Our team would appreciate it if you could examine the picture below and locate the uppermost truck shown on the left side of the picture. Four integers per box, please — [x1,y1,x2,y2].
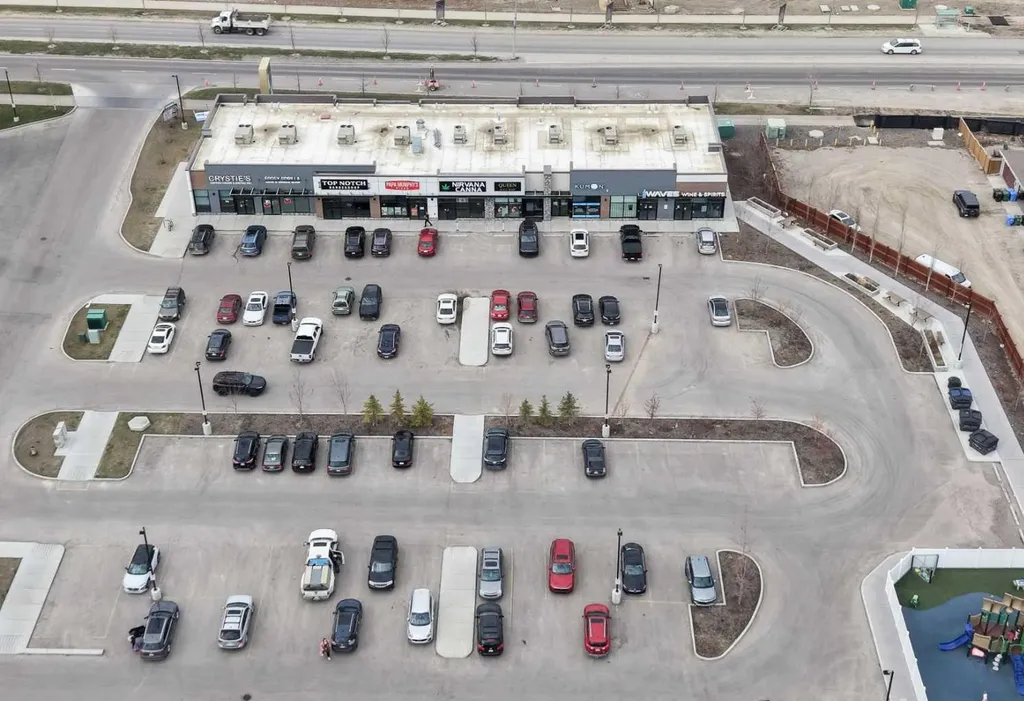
[210,6,270,33]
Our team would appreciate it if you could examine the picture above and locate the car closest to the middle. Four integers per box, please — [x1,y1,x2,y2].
[490,324,514,357]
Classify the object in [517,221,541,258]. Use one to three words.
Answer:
vehicle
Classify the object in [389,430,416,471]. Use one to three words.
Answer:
car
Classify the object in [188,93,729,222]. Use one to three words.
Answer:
building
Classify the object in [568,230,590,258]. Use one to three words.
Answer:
car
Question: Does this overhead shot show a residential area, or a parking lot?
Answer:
parking lot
